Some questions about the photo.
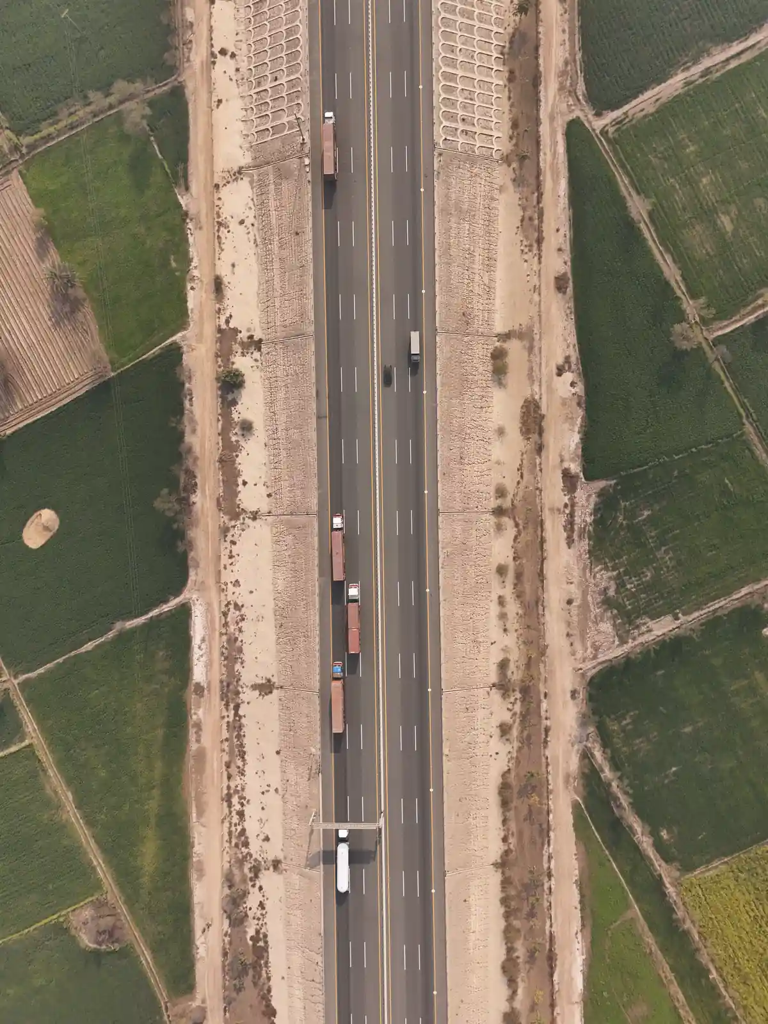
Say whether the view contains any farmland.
Yes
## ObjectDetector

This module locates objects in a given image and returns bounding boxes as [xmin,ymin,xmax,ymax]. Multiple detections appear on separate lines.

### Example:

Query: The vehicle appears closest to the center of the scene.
[331,513,345,580]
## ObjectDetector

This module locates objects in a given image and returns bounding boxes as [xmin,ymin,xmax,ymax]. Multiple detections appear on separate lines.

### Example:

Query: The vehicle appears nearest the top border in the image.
[323,113,335,181]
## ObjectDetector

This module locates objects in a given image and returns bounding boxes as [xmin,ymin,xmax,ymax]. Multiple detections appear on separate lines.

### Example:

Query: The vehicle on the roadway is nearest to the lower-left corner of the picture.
[337,828,350,891]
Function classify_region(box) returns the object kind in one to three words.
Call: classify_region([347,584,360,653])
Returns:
vehicle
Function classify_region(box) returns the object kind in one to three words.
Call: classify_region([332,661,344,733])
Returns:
vehicle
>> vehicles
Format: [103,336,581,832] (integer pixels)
[384,365,392,385]
[337,828,350,891]
[331,513,345,580]
[410,332,420,364]
[347,584,360,653]
[332,661,344,733]
[323,113,335,181]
